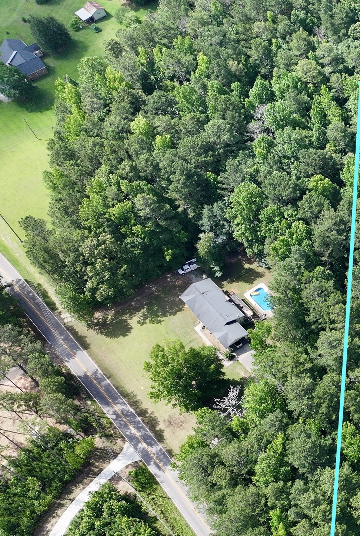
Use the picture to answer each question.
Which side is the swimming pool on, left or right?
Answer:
right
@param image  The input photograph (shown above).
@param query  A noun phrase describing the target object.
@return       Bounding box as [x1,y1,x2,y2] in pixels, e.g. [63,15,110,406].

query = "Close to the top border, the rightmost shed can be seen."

[74,0,108,27]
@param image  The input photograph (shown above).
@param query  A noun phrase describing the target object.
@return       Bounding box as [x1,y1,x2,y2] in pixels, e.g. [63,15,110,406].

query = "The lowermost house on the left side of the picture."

[0,37,49,79]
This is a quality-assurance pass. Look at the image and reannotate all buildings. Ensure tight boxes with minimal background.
[0,37,49,79]
[74,0,108,27]
[178,279,257,353]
